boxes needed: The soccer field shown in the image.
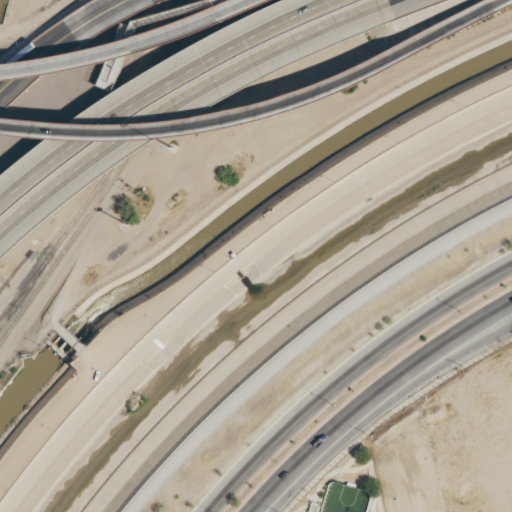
[316,482,370,512]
